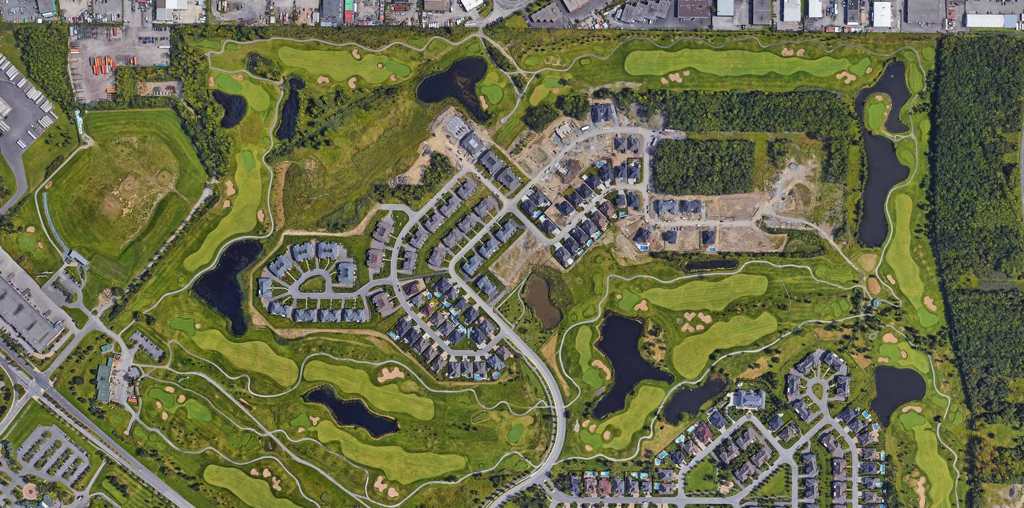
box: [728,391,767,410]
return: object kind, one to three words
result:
house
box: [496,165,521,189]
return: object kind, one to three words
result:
building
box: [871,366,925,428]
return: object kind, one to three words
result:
pond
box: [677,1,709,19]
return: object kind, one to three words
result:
building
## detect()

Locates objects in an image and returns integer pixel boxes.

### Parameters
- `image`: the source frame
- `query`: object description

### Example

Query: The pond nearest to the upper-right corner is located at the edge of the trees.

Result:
[854,61,911,247]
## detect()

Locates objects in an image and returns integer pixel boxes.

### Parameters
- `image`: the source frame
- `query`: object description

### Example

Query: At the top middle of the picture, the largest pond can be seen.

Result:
[418,56,490,120]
